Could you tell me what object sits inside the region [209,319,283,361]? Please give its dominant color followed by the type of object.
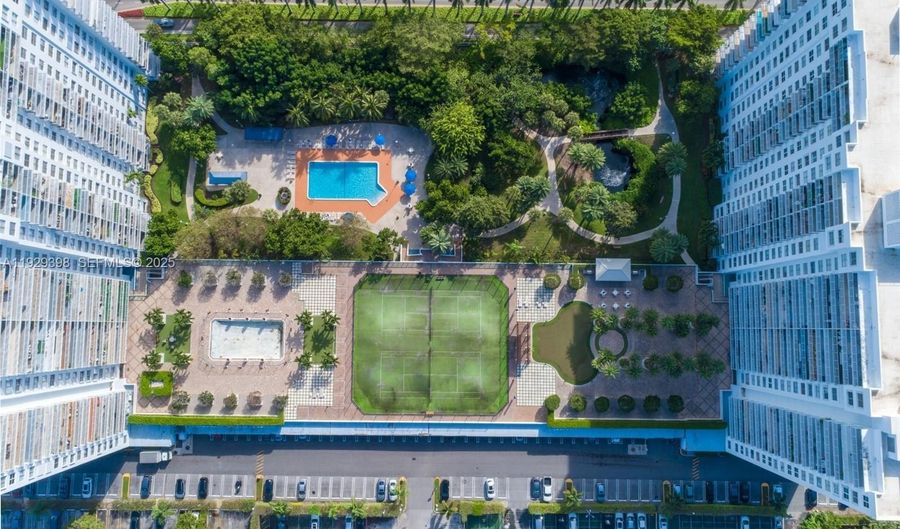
white swimming pool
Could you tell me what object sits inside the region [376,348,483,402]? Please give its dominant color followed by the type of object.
green tennis court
